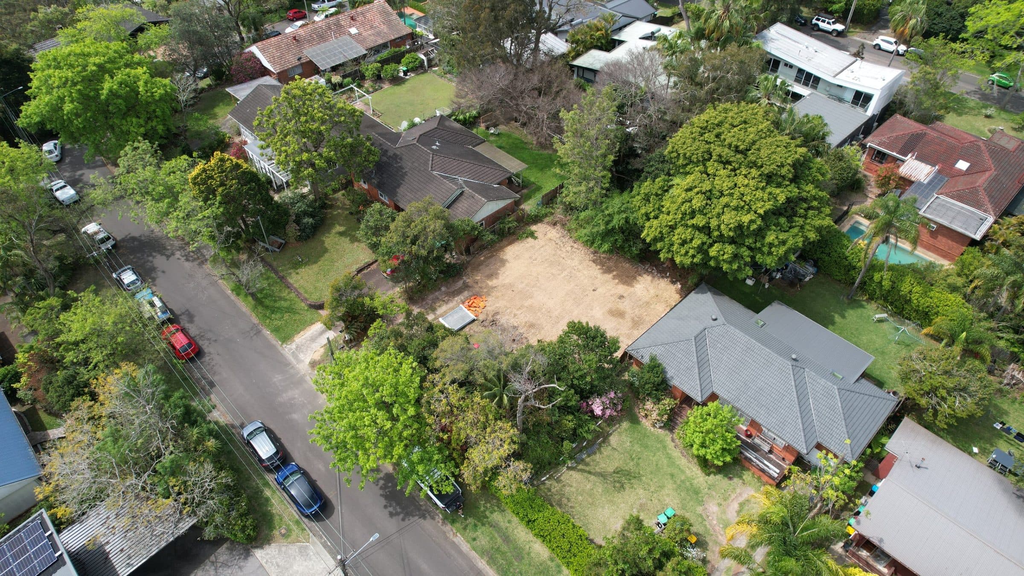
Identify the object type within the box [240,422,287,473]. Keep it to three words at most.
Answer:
car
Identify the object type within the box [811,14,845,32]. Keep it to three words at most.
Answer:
car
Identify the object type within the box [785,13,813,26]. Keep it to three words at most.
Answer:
vehicle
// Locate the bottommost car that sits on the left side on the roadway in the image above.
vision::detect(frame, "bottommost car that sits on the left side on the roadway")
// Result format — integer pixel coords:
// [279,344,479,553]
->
[276,464,325,519]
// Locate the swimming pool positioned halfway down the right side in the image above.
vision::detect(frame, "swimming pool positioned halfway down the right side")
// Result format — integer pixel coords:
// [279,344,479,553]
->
[841,215,937,270]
